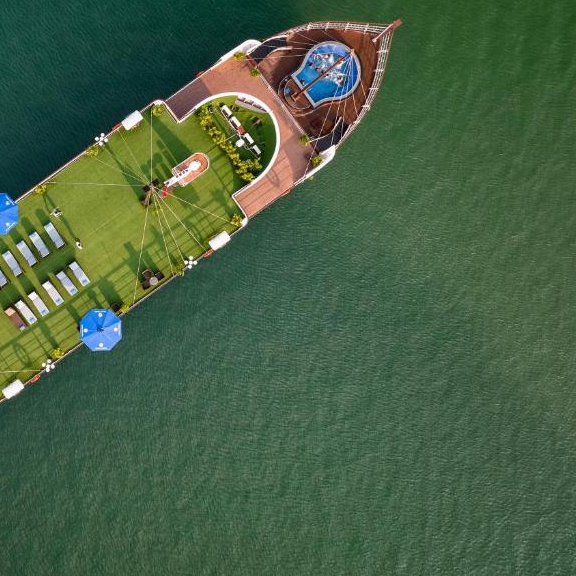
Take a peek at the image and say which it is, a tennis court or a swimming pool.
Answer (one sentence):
The one in the frame is a swimming pool.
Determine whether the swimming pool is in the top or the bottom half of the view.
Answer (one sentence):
You can find the swimming pool in the top half.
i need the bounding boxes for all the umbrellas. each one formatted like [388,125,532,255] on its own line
[0,192,20,234]
[79,309,121,351]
